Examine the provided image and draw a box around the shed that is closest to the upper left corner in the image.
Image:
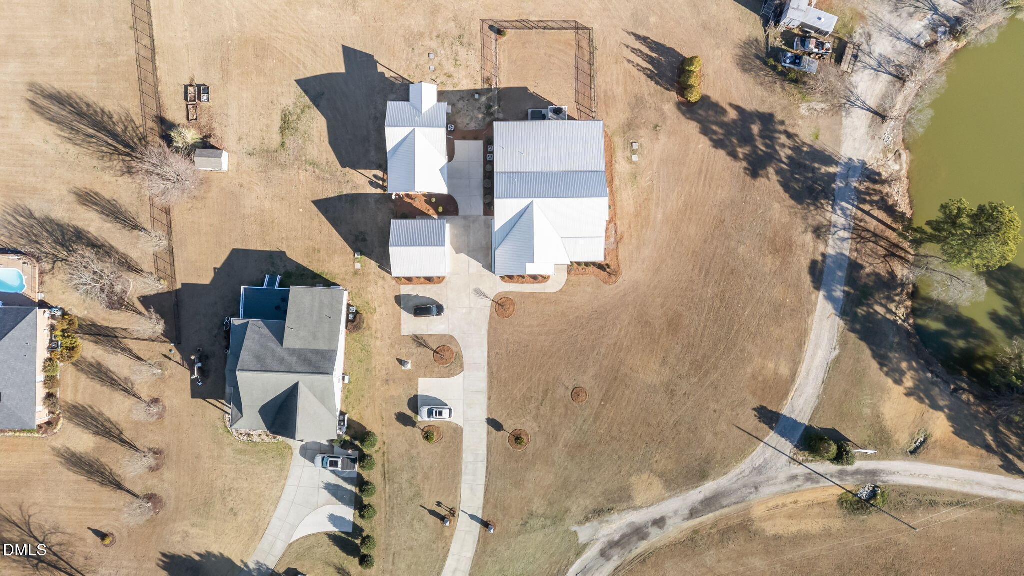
[193,148,229,176]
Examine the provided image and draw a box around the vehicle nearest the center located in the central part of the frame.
[413,302,443,317]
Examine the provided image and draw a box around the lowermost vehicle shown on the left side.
[315,453,357,471]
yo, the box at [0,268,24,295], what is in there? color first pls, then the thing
white swimming pool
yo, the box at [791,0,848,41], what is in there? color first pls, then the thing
white trailer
